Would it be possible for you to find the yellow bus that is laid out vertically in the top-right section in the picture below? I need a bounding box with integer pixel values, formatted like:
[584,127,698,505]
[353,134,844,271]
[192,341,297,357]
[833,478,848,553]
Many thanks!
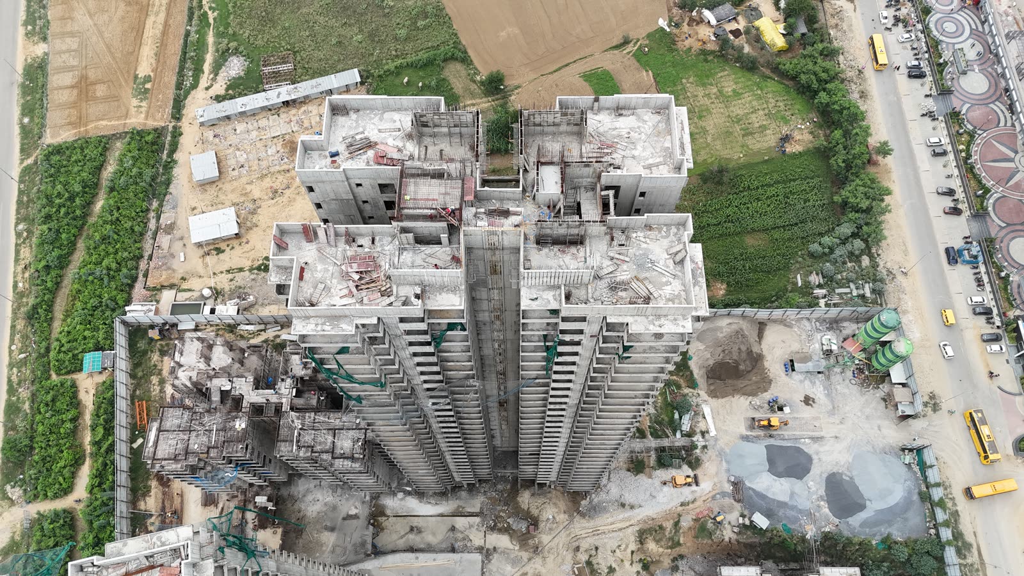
[869,36,889,68]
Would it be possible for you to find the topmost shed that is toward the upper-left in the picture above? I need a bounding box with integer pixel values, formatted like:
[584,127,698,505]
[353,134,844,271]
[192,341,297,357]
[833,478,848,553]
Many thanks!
[197,69,362,130]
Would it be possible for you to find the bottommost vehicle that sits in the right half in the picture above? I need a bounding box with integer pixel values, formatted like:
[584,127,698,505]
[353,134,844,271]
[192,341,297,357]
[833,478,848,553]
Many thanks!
[707,511,729,527]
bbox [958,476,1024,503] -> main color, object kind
yellow bus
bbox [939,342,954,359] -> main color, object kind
white car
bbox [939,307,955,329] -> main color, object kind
yellow vehicle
